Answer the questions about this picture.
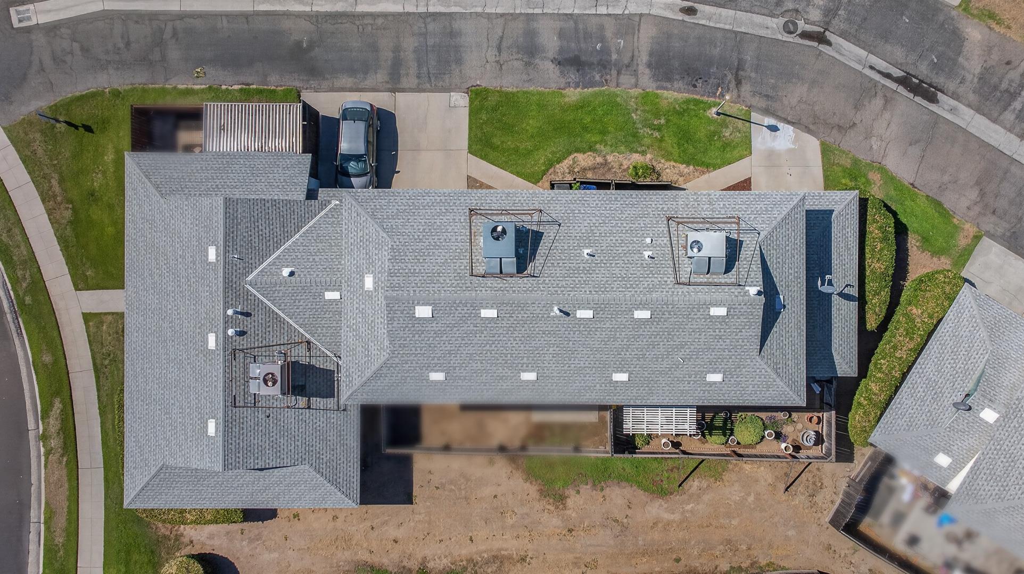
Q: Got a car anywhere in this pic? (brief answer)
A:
Yes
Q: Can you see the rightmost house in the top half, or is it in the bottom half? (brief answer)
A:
bottom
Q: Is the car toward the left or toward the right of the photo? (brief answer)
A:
left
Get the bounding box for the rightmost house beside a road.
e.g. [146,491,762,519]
[868,282,1024,544]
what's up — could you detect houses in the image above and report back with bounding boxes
[124,151,859,510]
[868,282,1024,544]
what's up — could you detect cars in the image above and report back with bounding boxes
[331,102,380,189]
